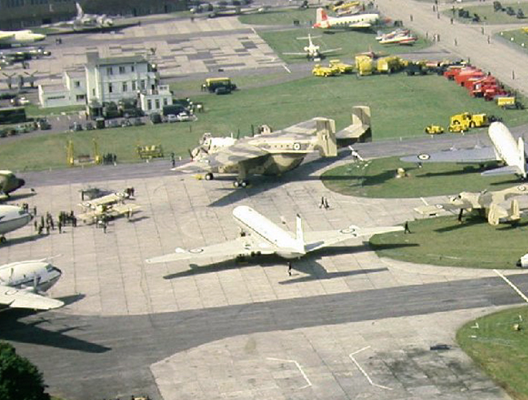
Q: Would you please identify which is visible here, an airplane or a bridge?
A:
airplane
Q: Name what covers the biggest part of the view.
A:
paved ground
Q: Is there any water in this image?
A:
No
